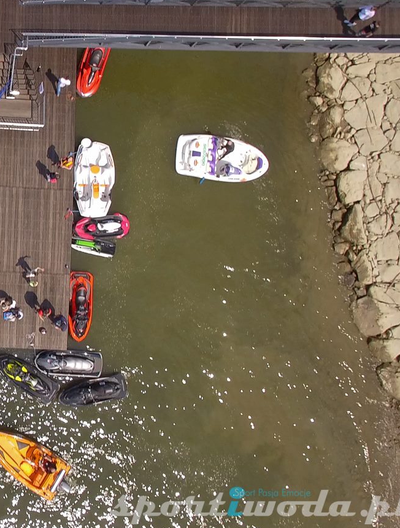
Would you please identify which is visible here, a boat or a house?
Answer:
boat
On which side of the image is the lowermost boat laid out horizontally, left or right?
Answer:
left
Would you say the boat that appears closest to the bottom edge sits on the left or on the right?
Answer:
left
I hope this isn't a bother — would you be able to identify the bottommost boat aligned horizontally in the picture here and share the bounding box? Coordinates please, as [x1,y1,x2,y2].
[57,370,131,406]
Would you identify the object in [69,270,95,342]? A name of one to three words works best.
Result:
boat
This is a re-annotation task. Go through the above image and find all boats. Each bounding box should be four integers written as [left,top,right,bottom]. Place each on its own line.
[80,51,114,98]
[57,370,131,406]
[34,350,103,377]
[170,136,269,184]
[69,270,95,342]
[70,140,115,217]
[71,237,117,259]
[74,214,131,239]
[0,428,74,499]
[0,355,62,410]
